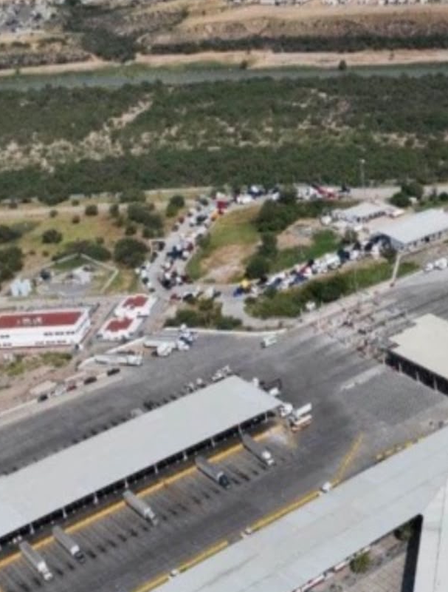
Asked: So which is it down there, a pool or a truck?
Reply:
truck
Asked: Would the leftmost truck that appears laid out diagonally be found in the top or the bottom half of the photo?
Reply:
bottom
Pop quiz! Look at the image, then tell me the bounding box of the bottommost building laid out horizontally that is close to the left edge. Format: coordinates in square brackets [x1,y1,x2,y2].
[0,309,90,341]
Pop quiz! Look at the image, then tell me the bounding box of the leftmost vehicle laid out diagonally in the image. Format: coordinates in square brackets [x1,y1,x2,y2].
[18,542,52,580]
